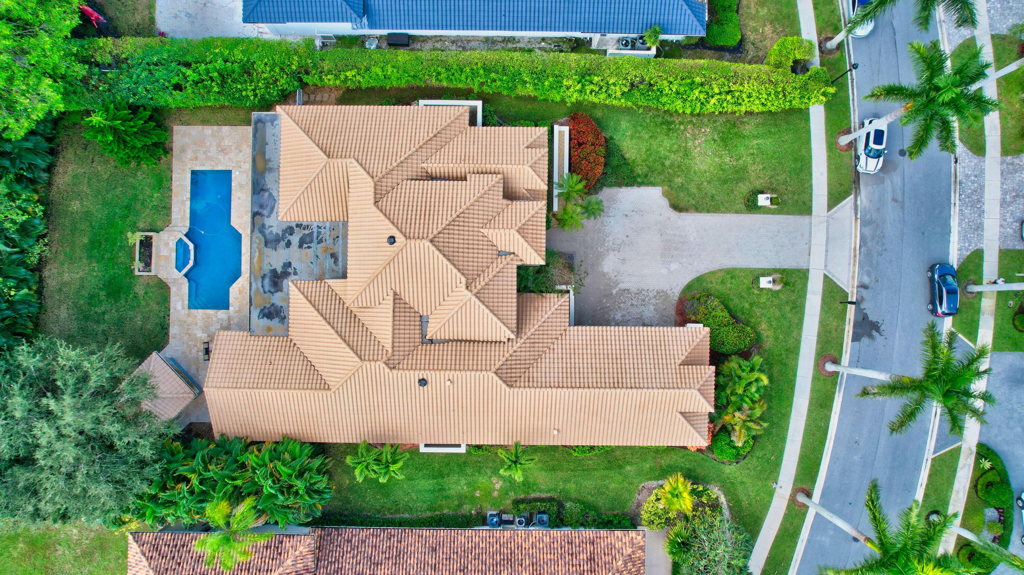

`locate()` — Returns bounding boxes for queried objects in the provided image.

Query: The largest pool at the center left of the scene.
[184,170,242,310]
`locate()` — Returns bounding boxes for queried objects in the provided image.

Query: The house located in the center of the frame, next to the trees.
[202,103,718,448]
